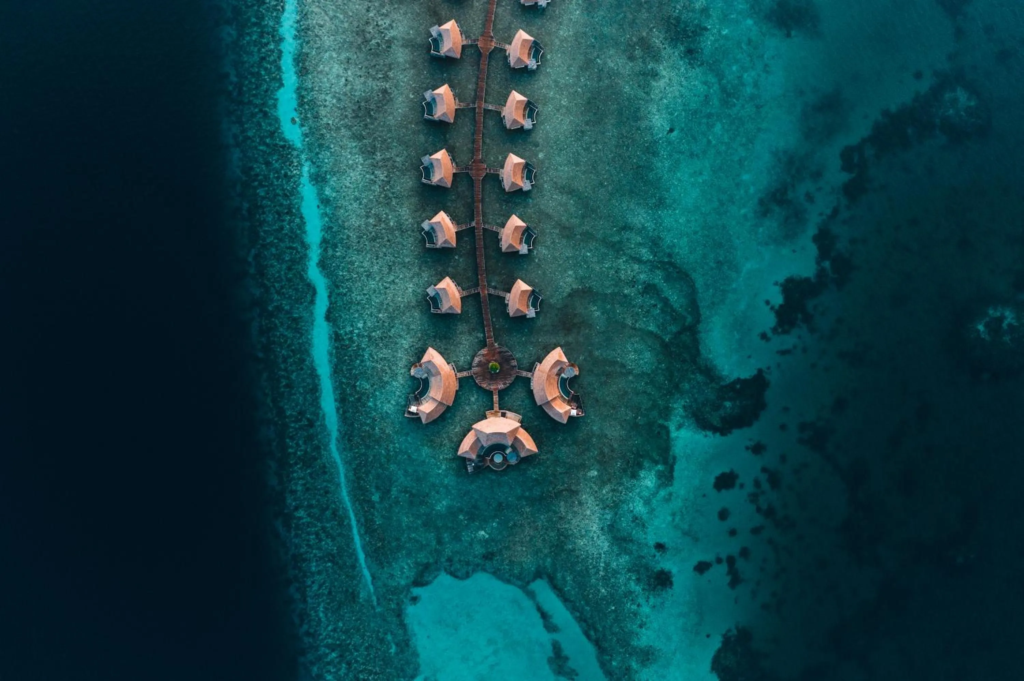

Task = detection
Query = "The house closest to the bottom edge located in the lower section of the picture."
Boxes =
[457,410,538,474]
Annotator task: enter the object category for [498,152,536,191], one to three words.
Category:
house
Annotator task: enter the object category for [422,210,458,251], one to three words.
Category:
house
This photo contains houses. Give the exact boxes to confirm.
[427,276,464,316]
[530,347,584,424]
[500,90,538,130]
[420,149,457,188]
[506,29,544,70]
[404,347,459,424]
[422,210,458,251]
[504,279,543,317]
[422,83,460,124]
[457,410,538,474]
[429,19,466,60]
[498,152,536,191]
[498,214,537,253]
